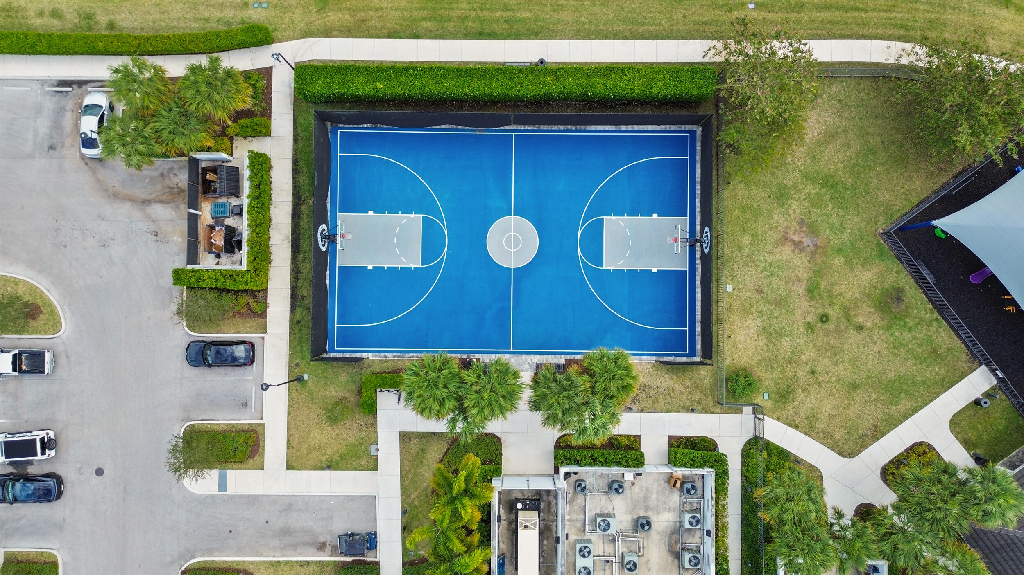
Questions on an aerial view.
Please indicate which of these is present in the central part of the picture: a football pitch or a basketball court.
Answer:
basketball court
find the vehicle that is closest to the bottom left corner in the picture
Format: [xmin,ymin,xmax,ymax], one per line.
[0,471,64,507]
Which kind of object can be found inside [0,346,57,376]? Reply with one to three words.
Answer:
truck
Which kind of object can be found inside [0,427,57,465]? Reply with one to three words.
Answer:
car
